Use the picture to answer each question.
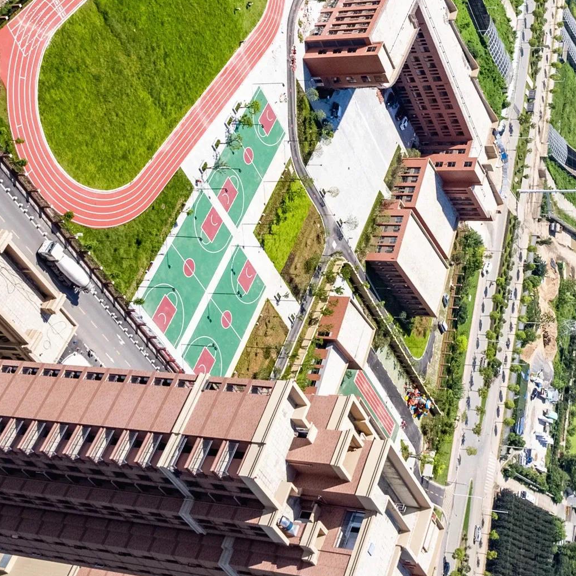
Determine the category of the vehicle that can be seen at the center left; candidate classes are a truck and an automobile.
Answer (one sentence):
The vehicle that can be seen at the center left appears to be a truck.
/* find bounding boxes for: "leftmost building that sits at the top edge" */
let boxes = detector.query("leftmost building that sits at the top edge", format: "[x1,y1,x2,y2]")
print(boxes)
[295,0,504,220]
